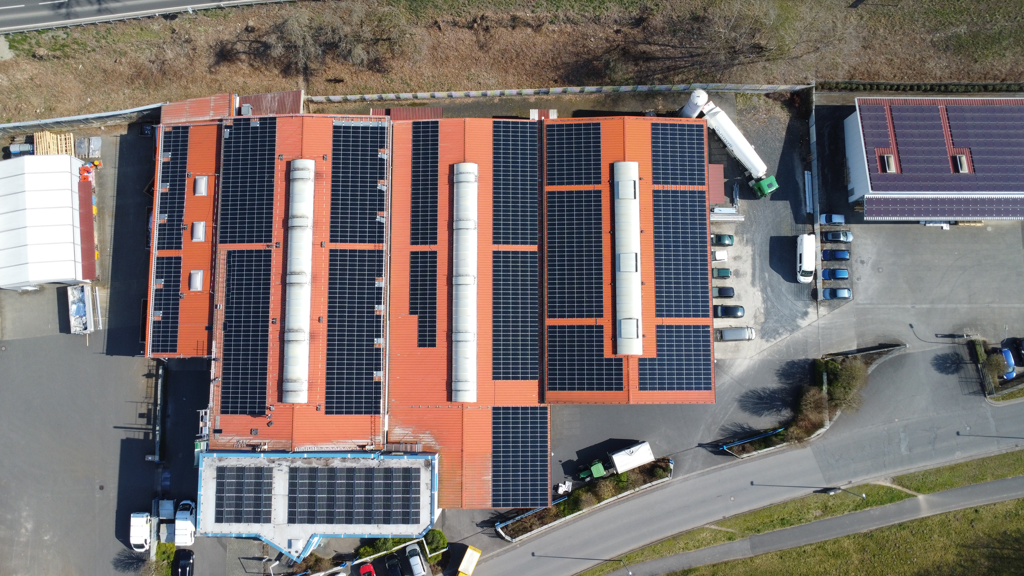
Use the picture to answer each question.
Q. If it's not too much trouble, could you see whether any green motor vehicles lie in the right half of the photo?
Yes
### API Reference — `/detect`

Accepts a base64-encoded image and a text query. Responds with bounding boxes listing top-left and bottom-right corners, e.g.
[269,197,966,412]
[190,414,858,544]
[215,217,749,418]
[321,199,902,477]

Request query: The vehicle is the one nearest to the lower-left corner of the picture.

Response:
[130,509,152,552]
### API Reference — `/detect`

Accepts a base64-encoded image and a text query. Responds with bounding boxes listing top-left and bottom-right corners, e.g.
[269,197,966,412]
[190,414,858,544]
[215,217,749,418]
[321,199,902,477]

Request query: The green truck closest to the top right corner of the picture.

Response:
[742,171,778,199]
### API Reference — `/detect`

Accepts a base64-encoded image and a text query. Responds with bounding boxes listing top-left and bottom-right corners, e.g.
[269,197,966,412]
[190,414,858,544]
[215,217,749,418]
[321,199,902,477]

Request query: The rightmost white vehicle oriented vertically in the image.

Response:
[796,235,816,283]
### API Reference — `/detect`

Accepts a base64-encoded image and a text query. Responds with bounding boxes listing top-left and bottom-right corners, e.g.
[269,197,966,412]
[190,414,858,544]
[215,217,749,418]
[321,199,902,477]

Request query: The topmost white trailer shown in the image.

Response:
[700,97,768,182]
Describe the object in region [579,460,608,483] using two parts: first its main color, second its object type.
green work vehicle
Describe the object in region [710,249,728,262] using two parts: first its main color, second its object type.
white vehicle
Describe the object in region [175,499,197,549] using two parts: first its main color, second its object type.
white vehicle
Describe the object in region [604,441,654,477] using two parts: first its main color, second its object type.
white trailer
